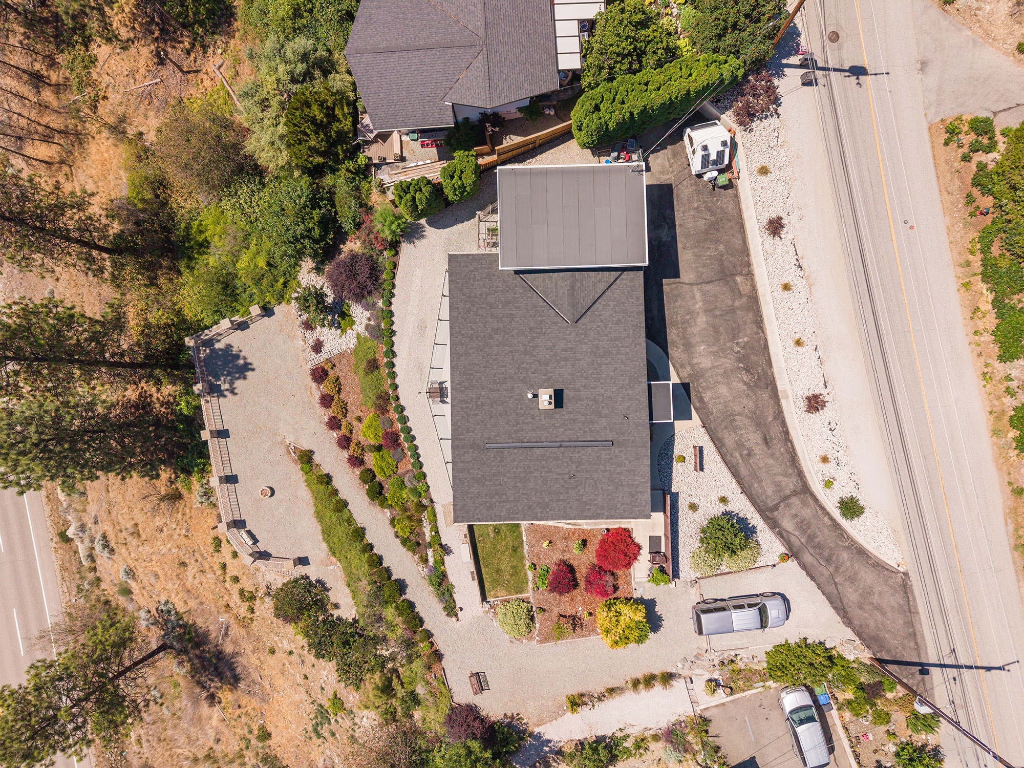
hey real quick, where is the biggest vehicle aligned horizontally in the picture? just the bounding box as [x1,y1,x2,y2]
[684,591,789,638]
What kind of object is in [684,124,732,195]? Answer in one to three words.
trailer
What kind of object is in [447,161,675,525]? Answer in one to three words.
house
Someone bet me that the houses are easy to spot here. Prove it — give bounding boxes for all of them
[447,161,675,525]
[345,0,560,139]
